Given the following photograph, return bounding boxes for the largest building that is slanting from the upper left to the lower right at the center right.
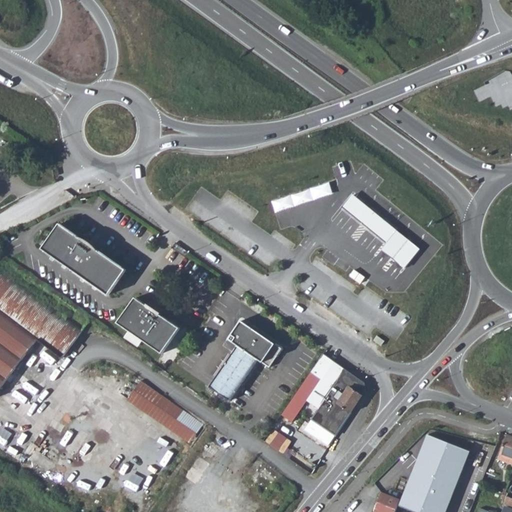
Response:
[342,194,420,268]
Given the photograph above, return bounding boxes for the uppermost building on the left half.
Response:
[38,223,124,296]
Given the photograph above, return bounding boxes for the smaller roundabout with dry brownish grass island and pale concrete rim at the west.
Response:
[60,78,166,179]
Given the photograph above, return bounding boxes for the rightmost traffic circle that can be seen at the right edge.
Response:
[463,161,512,313]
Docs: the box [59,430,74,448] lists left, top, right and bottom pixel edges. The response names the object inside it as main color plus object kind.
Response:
white camper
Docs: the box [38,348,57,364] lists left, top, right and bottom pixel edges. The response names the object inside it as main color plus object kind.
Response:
white camper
